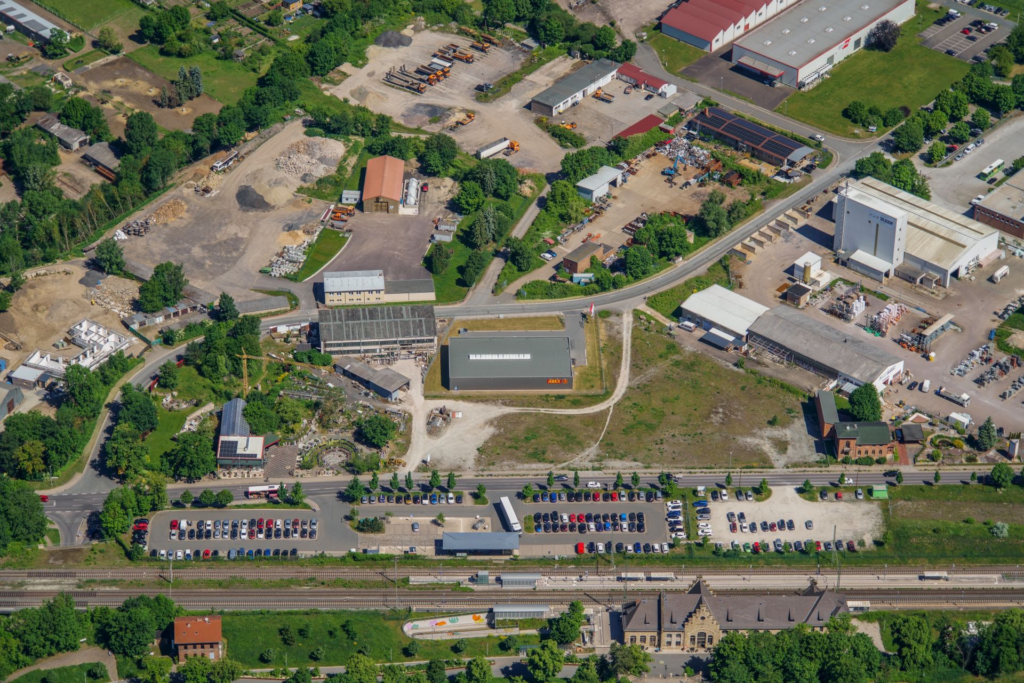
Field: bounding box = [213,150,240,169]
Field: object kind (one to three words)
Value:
vehicle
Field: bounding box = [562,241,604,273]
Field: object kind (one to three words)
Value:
house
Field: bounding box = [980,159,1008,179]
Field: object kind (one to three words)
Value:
bus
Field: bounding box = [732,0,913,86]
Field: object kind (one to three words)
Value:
building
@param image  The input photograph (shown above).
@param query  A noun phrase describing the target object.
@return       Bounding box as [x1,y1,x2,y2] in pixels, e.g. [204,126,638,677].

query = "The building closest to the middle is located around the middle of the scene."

[440,336,582,391]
